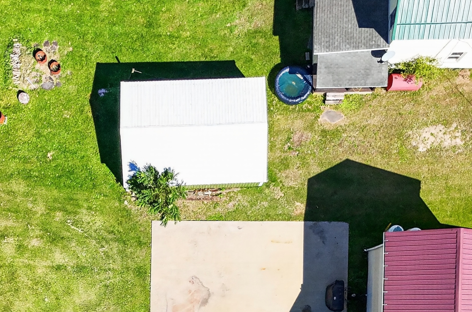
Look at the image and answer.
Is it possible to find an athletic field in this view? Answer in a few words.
No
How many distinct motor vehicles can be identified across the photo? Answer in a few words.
0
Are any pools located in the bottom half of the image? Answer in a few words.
No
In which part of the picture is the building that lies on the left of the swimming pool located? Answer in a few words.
center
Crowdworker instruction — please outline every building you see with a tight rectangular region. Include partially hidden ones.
[120,77,269,194]
[283,0,472,109]
[363,228,472,312]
